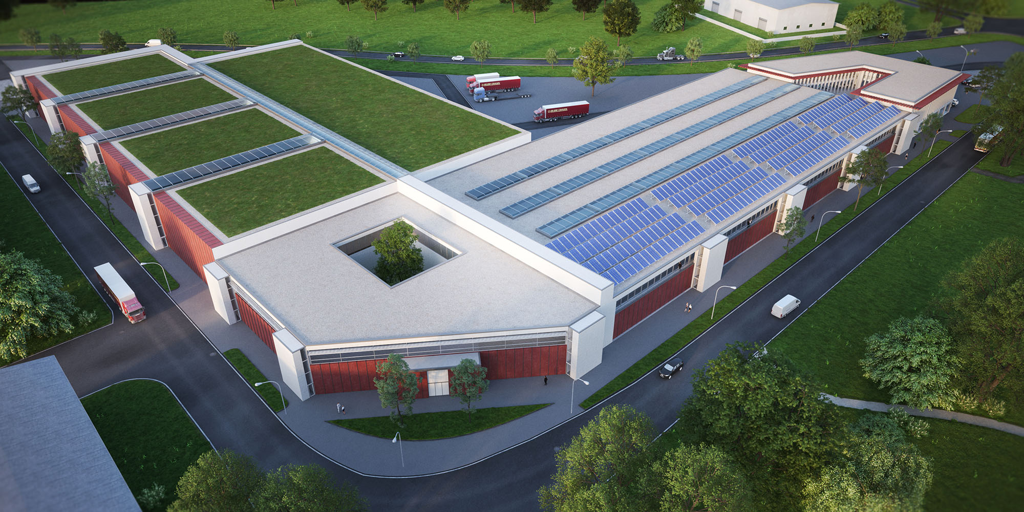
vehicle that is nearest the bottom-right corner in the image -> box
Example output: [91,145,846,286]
[774,296,800,318]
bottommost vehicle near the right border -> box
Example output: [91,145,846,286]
[973,127,999,152]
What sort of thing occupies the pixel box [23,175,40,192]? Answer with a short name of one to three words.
vehicle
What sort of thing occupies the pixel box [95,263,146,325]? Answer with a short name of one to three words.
truck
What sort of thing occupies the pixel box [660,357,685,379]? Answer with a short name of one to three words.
car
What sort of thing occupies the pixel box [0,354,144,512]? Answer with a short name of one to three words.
building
